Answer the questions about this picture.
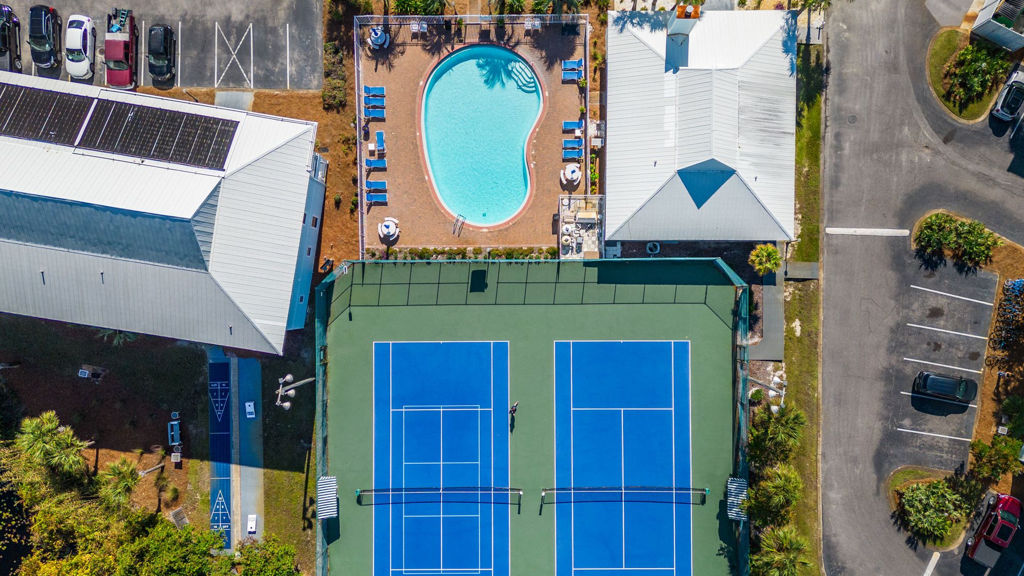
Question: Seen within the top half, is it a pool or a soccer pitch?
pool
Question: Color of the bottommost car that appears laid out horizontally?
black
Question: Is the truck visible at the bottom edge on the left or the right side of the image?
right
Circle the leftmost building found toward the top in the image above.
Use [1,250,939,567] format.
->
[0,70,337,357]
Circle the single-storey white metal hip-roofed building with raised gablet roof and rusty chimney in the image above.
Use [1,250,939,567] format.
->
[604,3,798,241]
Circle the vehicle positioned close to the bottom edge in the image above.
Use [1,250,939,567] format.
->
[971,491,1024,570]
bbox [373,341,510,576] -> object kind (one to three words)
tennis court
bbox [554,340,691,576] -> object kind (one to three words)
tennis court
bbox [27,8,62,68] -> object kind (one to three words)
car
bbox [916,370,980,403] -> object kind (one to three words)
car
